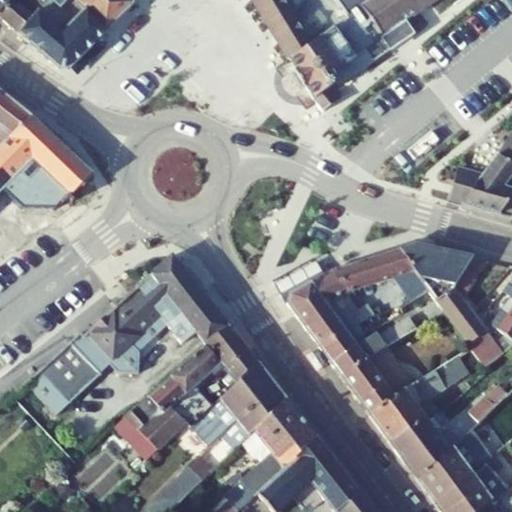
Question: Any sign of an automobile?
Yes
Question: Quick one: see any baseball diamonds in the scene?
No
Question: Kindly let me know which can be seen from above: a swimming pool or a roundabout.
roundabout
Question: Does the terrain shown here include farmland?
No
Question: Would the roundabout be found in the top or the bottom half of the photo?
top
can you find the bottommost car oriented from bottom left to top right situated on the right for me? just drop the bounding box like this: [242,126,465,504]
[328,230,347,247]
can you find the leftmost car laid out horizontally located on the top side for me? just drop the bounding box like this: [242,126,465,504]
[176,122,196,134]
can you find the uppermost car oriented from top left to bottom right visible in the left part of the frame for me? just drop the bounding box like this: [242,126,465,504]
[158,52,176,70]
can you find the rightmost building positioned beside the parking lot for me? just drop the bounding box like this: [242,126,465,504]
[450,153,512,216]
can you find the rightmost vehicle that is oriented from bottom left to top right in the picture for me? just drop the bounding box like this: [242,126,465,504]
[410,130,440,157]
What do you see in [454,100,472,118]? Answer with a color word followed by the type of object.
white car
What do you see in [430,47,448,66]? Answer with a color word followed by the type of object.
white car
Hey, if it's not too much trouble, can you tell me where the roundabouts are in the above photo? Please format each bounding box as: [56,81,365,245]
[117,112,240,236]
